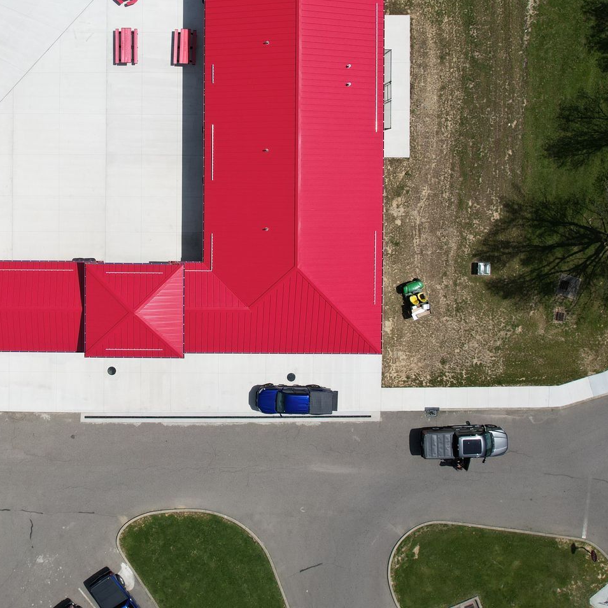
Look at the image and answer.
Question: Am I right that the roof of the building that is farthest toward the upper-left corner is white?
No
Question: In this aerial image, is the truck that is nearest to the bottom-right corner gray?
Yes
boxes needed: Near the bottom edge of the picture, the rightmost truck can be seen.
[91,569,141,608]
